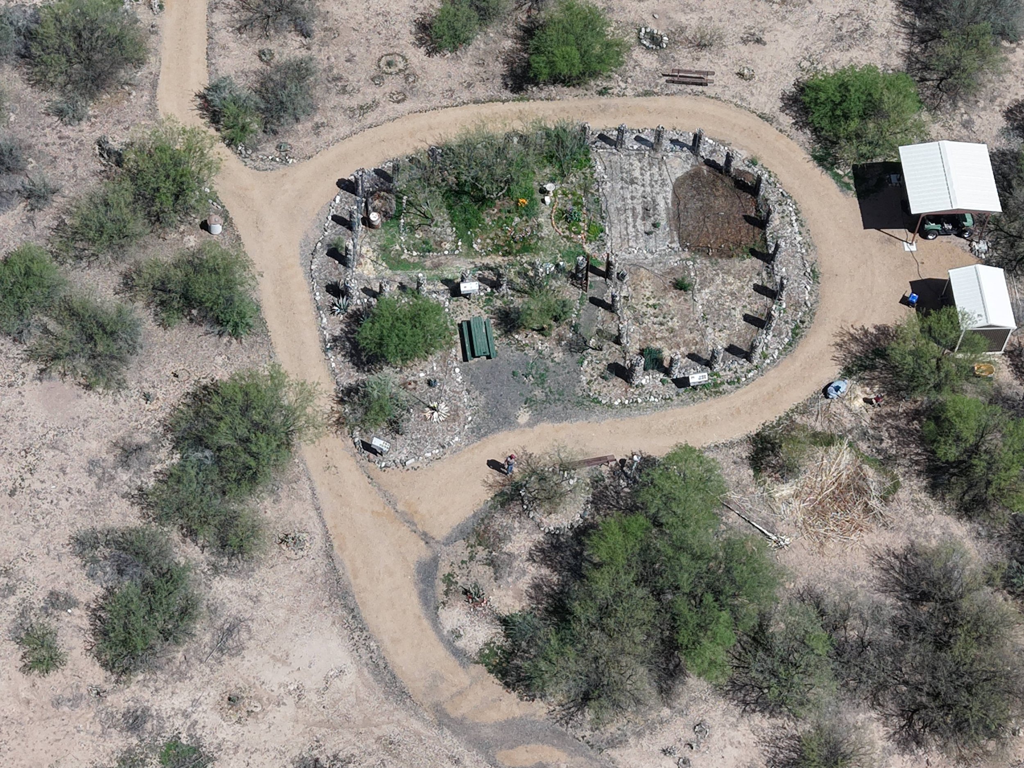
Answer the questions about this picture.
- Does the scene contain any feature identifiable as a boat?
No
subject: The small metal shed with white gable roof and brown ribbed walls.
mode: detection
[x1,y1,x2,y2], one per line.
[942,264,1017,352]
